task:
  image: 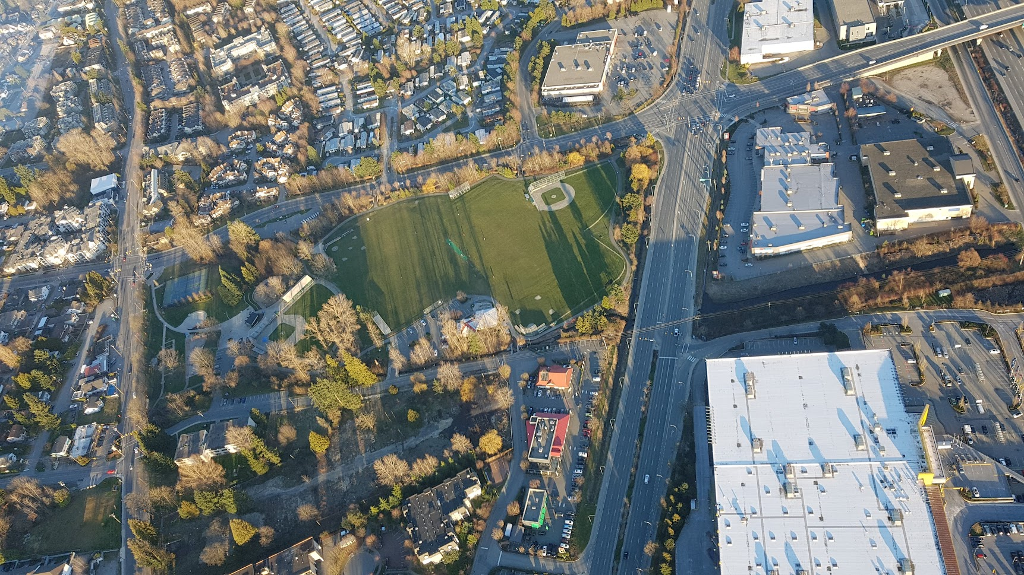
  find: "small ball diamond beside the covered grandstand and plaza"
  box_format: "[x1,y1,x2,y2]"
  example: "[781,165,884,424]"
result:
[257,284,332,345]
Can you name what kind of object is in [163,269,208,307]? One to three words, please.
tennis court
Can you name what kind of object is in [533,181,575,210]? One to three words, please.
baseball field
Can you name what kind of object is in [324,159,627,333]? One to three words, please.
soccer field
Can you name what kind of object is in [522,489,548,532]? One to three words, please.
building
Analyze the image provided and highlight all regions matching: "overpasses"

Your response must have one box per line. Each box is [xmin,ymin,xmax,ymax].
[814,3,1024,83]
